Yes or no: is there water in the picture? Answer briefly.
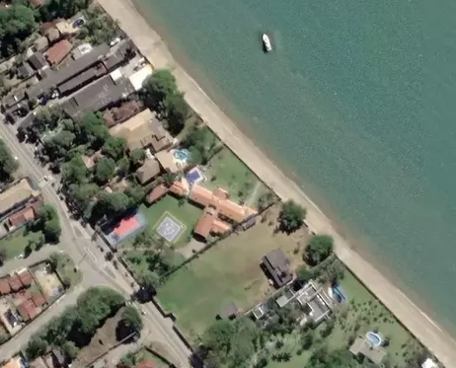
Yes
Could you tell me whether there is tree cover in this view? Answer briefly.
Yes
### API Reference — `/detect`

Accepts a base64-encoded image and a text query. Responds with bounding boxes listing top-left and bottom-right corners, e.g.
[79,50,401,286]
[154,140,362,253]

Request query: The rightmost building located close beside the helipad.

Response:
[189,184,245,241]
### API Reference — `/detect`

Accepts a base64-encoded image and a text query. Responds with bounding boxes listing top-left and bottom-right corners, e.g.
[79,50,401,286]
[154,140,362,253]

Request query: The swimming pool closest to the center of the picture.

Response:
[184,171,203,190]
